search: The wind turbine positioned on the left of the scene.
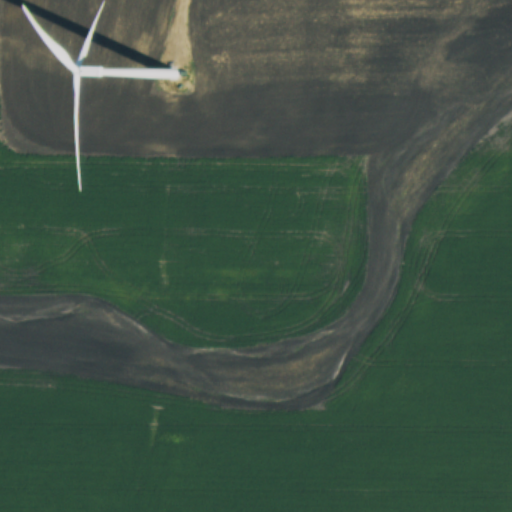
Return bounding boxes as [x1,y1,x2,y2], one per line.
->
[22,0,181,192]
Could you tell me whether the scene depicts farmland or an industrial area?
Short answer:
farmland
